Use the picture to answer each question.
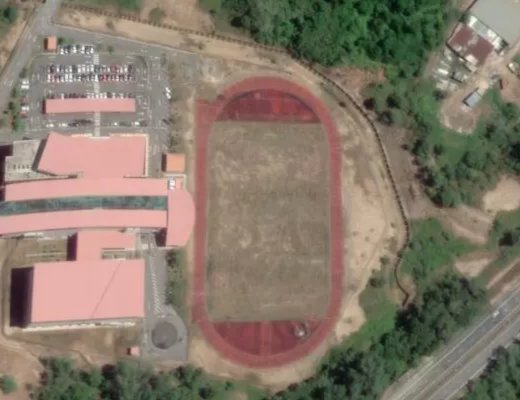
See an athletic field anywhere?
Yes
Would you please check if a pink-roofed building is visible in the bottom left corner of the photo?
Yes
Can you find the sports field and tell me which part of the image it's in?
center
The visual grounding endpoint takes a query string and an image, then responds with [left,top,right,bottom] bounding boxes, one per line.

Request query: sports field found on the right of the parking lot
[207,123,330,321]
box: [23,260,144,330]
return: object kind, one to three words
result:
building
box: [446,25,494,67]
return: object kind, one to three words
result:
shed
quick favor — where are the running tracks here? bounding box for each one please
[193,77,344,368]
